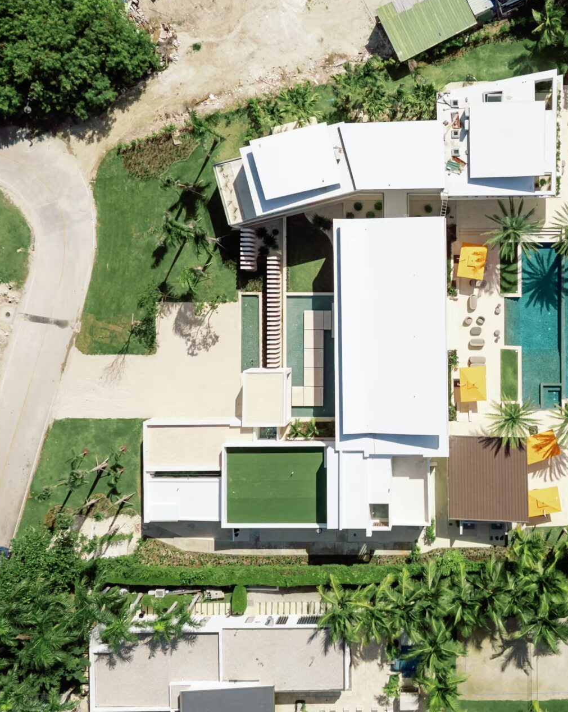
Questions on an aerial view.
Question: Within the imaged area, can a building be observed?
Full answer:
Yes, there's a building here.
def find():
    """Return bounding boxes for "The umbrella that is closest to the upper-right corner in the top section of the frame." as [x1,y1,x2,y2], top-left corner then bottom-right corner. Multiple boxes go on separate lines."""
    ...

[454,244,488,280]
